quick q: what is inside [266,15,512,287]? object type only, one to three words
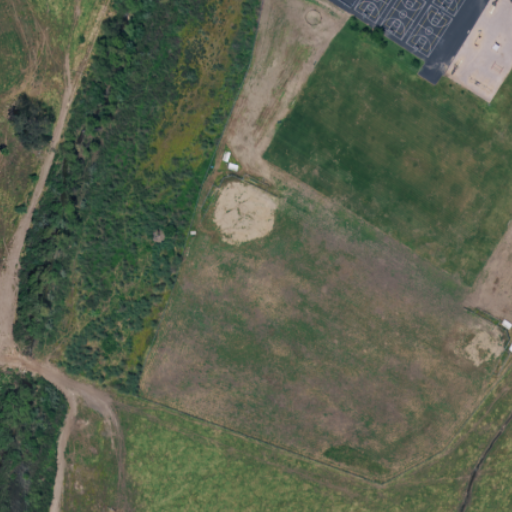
sports field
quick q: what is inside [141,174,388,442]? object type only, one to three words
baseball field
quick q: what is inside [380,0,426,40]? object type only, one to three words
basketball court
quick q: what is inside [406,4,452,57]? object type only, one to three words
basketball court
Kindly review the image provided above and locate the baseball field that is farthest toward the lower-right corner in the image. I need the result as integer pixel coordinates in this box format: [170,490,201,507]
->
[273,236,509,482]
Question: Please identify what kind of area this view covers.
sports ground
